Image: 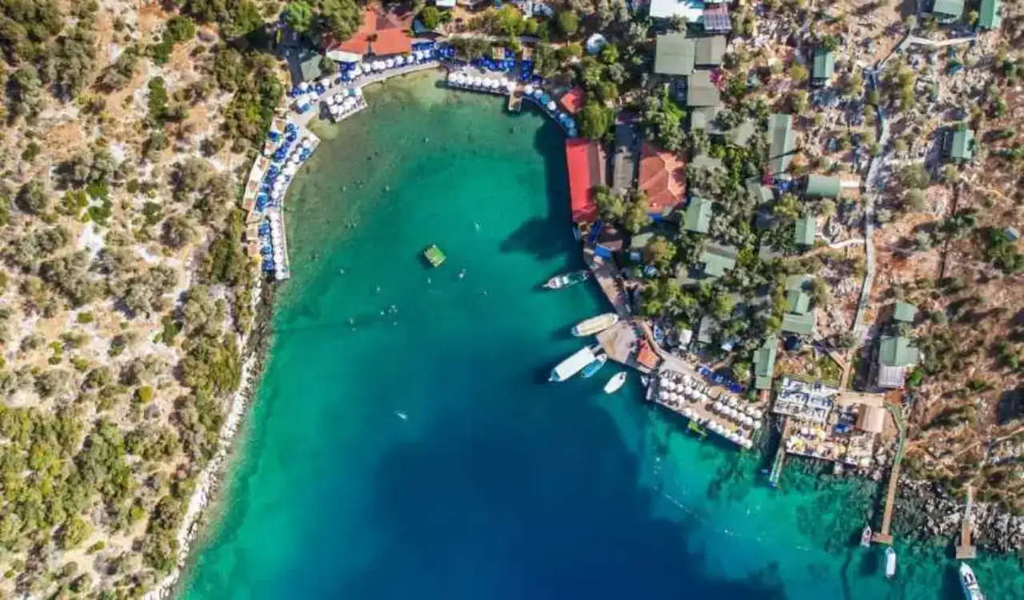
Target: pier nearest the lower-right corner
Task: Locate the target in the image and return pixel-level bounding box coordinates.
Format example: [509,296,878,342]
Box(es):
[953,521,976,558]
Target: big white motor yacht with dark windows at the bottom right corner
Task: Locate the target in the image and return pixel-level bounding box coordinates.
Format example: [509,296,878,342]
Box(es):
[962,564,989,600]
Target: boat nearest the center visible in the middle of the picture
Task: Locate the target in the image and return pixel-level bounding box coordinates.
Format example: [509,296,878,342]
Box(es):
[544,271,590,286]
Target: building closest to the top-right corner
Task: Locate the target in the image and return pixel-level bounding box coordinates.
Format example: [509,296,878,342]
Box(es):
[968,0,1001,34]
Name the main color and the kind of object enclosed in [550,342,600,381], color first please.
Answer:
white boat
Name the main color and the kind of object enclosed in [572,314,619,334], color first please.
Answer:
white boat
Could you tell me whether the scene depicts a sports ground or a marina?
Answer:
marina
